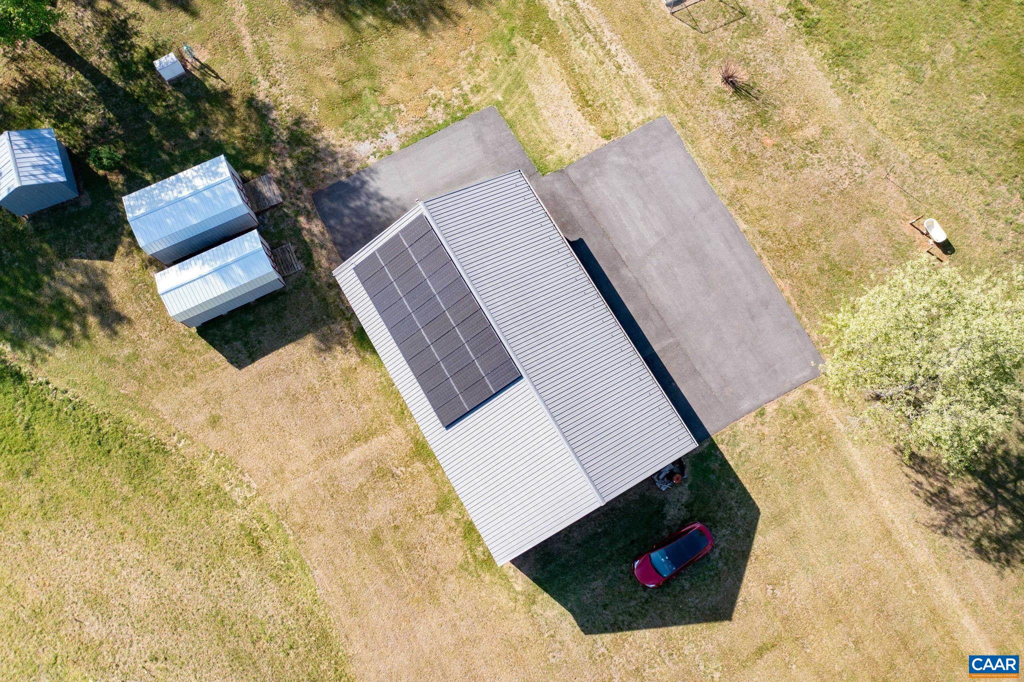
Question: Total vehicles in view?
1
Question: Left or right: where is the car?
right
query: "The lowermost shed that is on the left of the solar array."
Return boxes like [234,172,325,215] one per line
[155,230,285,327]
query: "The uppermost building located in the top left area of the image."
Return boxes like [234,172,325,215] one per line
[154,52,189,89]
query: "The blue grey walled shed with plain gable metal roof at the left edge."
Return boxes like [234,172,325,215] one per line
[0,128,80,215]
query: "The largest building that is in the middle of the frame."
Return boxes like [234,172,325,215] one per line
[332,169,699,567]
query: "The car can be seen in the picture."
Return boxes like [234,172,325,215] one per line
[631,522,718,588]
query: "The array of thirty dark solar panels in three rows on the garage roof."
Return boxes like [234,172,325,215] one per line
[353,215,521,427]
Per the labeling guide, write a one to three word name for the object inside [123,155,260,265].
shed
